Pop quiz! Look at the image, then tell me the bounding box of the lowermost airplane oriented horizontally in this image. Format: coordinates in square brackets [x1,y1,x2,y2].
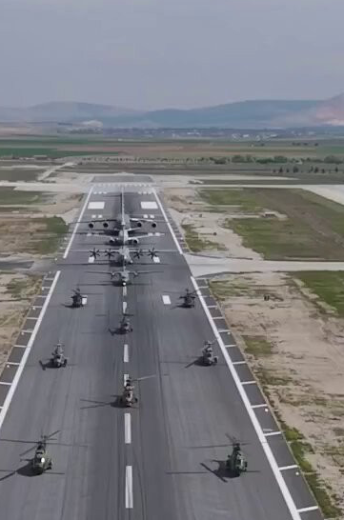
[84,269,163,289]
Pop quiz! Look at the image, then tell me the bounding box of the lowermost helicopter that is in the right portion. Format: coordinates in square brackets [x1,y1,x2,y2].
[189,428,281,476]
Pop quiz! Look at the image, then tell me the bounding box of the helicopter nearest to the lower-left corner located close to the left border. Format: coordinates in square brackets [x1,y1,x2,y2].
[0,427,88,475]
